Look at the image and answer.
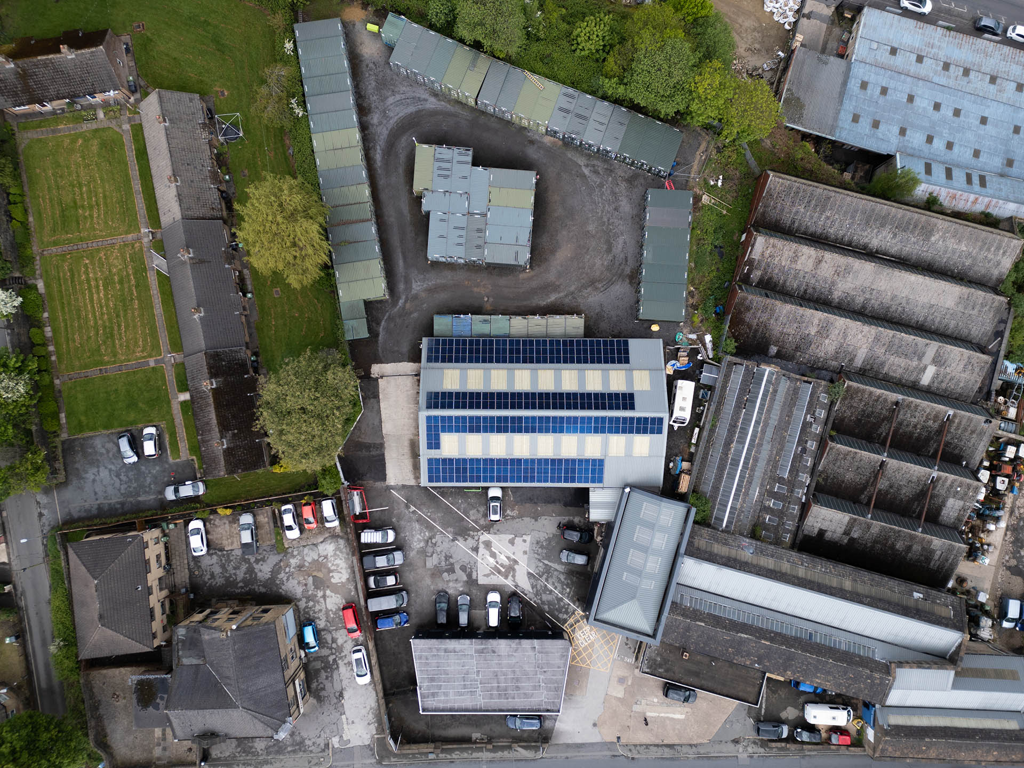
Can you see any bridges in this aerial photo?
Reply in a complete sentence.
No, I can't see a single bridge in this photo.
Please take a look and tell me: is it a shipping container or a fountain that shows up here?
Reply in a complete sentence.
Of the two, only a shipping container appears.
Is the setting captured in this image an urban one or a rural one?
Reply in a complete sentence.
The land in this view is best described as urban.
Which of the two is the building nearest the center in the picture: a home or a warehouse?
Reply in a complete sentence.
What you see as the building nearest the center is a warehouse.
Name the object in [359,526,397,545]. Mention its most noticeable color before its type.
white vehicle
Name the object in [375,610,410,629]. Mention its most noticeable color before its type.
blue car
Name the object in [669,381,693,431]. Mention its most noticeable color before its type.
white camper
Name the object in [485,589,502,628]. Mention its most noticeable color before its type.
white car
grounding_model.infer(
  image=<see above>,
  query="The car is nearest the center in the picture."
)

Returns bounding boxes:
[487,487,503,523]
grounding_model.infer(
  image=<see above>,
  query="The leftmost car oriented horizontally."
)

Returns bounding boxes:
[166,480,207,498]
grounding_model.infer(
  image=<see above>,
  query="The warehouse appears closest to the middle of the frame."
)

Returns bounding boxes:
[418,337,670,487]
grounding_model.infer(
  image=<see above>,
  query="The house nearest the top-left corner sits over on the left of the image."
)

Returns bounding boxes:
[0,29,133,121]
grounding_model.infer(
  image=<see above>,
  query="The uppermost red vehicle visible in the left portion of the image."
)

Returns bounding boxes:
[300,501,319,530]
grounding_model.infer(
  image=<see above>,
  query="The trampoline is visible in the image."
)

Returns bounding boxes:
[224,125,241,142]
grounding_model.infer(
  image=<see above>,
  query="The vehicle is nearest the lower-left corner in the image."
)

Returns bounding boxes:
[188,518,209,557]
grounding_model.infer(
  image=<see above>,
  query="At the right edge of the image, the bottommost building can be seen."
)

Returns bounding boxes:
[859,648,1024,765]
